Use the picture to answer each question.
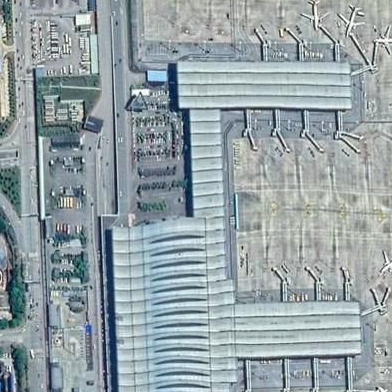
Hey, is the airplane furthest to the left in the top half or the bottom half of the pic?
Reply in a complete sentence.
You can find the airplane furthest to the left in the top half.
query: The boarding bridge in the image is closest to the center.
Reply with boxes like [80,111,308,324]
[245,109,257,150]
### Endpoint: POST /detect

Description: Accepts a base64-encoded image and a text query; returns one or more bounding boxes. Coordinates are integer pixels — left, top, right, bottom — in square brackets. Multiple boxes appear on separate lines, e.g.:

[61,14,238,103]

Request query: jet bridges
[304,266,321,302]
[360,287,390,317]
[283,359,289,392]
[340,266,349,302]
[270,266,286,303]
[301,110,324,153]
[335,110,365,154]
[347,357,378,392]
[245,109,257,150]
[245,359,250,392]
[254,27,267,60]
[274,110,290,153]
[318,23,339,60]
[284,26,303,60]
[312,358,318,392]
